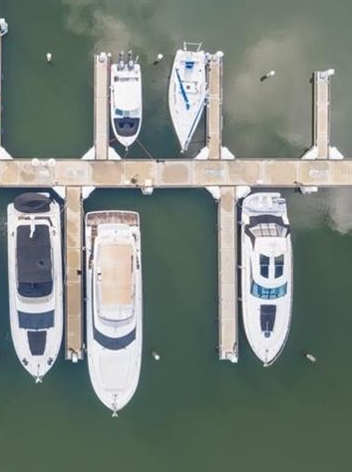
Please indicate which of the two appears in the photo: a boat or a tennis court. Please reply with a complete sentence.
I can see a boat in this picture.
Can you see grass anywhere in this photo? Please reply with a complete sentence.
No, there's no grass in this view.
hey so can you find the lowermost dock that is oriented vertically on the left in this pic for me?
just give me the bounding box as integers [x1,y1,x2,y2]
[52,187,96,359]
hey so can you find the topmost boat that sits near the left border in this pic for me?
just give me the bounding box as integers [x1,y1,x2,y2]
[14,192,52,213]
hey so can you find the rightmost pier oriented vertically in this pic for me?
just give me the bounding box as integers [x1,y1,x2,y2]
[300,71,342,159]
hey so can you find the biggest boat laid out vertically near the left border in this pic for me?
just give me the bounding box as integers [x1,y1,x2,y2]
[7,200,63,385]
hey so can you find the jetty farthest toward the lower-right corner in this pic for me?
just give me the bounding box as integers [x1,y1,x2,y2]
[205,187,252,359]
